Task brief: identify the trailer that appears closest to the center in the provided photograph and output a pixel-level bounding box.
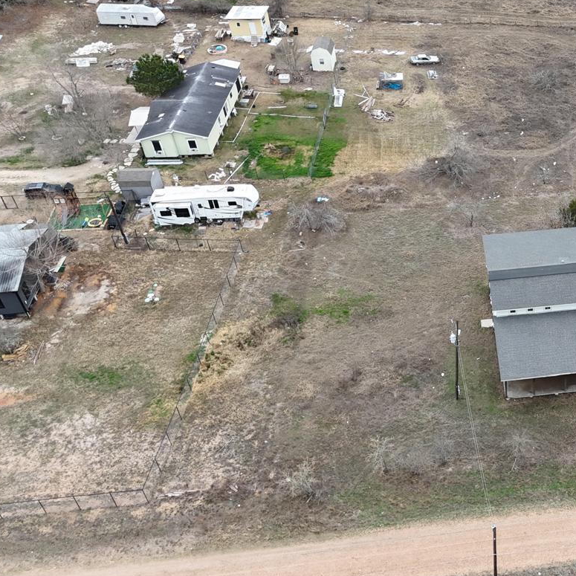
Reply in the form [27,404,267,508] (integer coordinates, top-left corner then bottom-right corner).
[150,183,265,230]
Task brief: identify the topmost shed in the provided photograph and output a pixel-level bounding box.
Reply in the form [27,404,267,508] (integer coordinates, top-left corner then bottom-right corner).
[222,3,275,41]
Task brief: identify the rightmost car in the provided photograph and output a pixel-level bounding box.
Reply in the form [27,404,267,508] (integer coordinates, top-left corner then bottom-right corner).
[408,52,441,67]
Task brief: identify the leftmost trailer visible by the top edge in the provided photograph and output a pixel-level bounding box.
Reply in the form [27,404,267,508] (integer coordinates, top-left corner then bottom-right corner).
[98,5,174,30]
